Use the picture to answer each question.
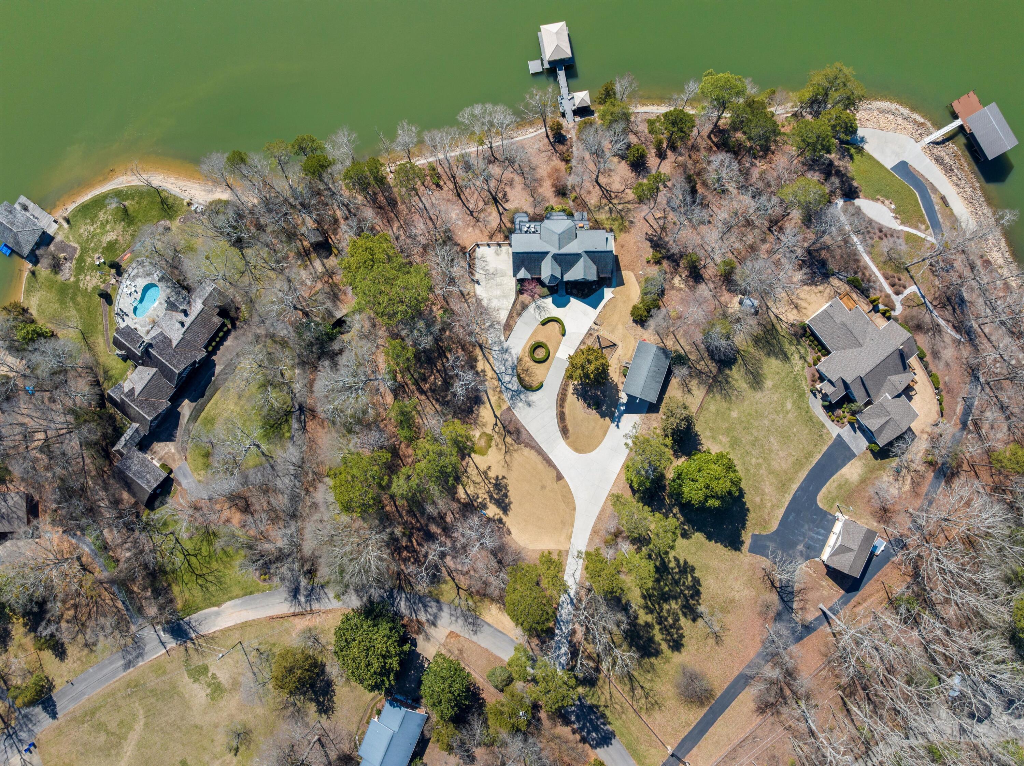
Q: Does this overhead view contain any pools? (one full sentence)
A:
Yes, a pool appears in the view.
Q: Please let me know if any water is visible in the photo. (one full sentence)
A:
Yes, water can be seen from above here.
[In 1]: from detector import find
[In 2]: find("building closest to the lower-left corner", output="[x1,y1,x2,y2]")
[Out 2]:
[0,491,41,544]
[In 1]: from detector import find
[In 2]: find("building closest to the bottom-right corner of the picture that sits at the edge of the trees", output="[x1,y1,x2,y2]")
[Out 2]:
[816,516,879,578]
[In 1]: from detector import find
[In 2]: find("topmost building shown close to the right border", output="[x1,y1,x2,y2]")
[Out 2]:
[944,90,1019,165]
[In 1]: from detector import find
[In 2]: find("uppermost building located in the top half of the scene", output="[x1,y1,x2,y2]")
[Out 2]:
[537,21,576,72]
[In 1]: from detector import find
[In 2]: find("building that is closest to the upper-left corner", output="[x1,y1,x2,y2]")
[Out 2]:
[0,195,61,266]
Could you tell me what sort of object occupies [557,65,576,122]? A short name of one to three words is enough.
pier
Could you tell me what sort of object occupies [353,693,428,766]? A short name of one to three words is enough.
house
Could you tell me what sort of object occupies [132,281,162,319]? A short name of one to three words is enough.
swimming pool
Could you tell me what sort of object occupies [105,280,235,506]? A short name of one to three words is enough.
house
